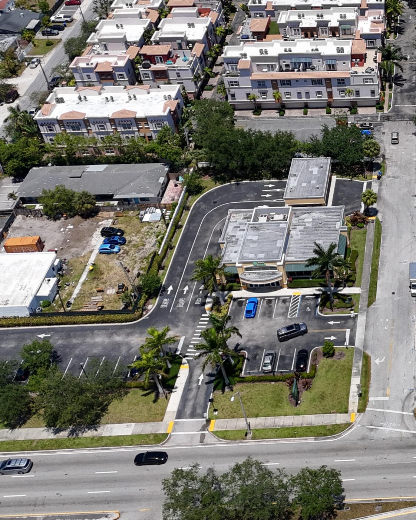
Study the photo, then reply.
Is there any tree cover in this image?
Yes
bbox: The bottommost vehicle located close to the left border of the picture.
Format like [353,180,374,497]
[0,458,34,475]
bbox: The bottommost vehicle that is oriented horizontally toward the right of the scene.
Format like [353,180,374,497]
[277,322,311,341]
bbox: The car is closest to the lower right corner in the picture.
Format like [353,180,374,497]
[293,350,310,371]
